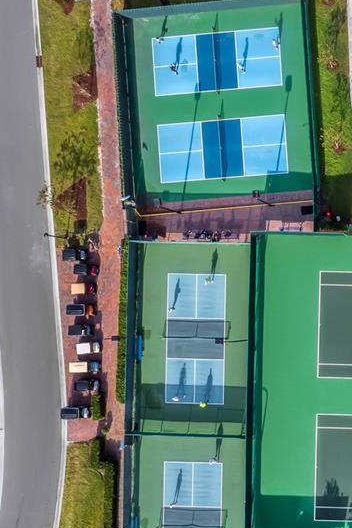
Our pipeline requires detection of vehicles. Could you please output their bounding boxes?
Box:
[61,405,88,418]
[76,342,102,355]
[68,325,95,337]
[73,263,100,276]
[62,248,88,261]
[74,377,101,391]
[66,304,94,316]
[70,283,97,295]
[69,360,97,373]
